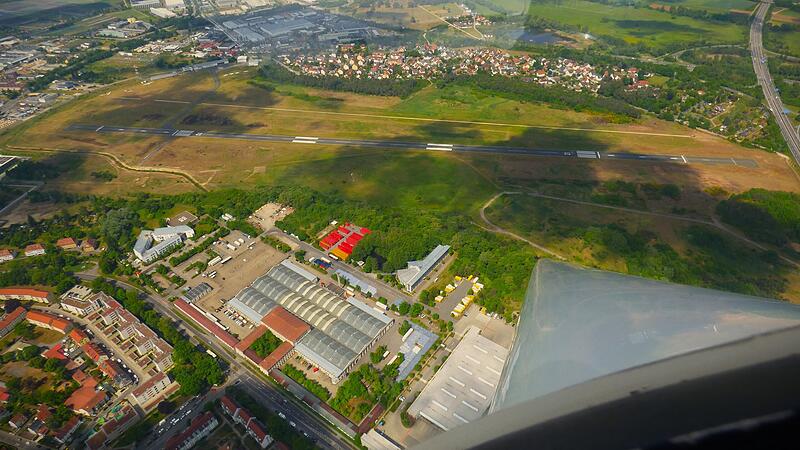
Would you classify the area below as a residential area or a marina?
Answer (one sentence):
The picture captures a residential area.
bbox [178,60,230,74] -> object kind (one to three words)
hangar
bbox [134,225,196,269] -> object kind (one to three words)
building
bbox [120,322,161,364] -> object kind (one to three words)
house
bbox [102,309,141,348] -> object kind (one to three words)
house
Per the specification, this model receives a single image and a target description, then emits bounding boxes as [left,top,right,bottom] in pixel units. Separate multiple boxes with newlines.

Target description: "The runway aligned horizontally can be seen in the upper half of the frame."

[61,124,760,166]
